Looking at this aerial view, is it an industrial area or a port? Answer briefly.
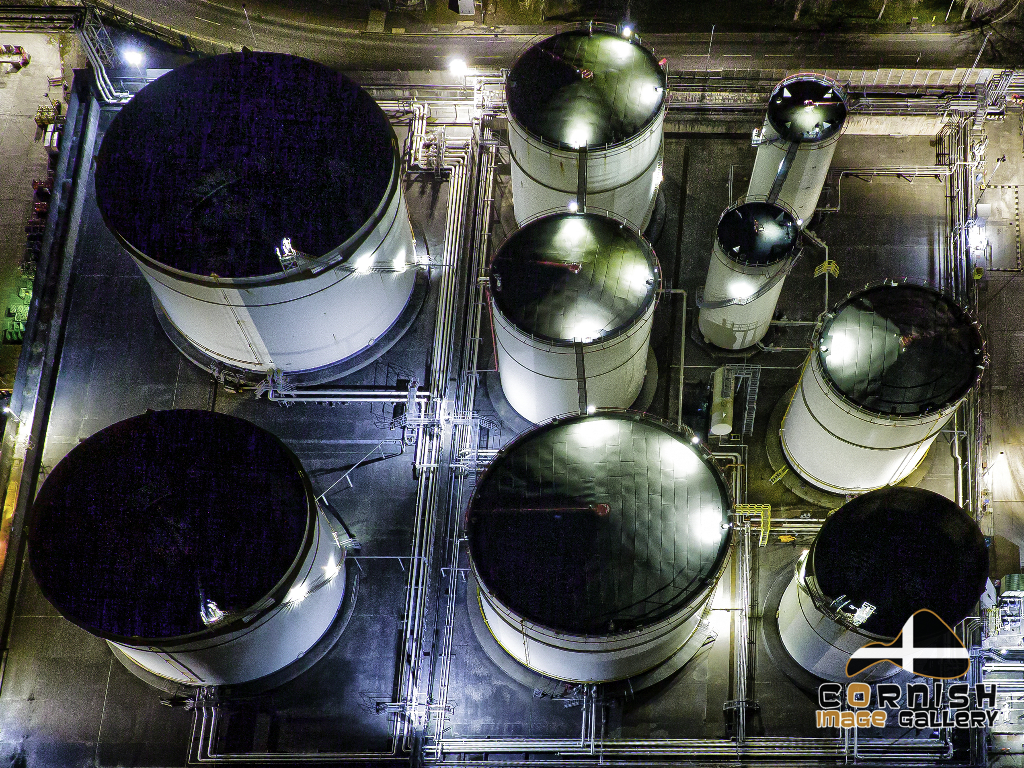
industrial area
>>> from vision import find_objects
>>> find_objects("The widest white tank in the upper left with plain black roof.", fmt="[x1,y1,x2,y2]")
[96,49,438,392]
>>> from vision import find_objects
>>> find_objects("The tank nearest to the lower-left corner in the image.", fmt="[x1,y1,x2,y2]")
[36,400,361,712]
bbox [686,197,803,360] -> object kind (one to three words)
storage tank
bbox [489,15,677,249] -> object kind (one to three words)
storage tank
